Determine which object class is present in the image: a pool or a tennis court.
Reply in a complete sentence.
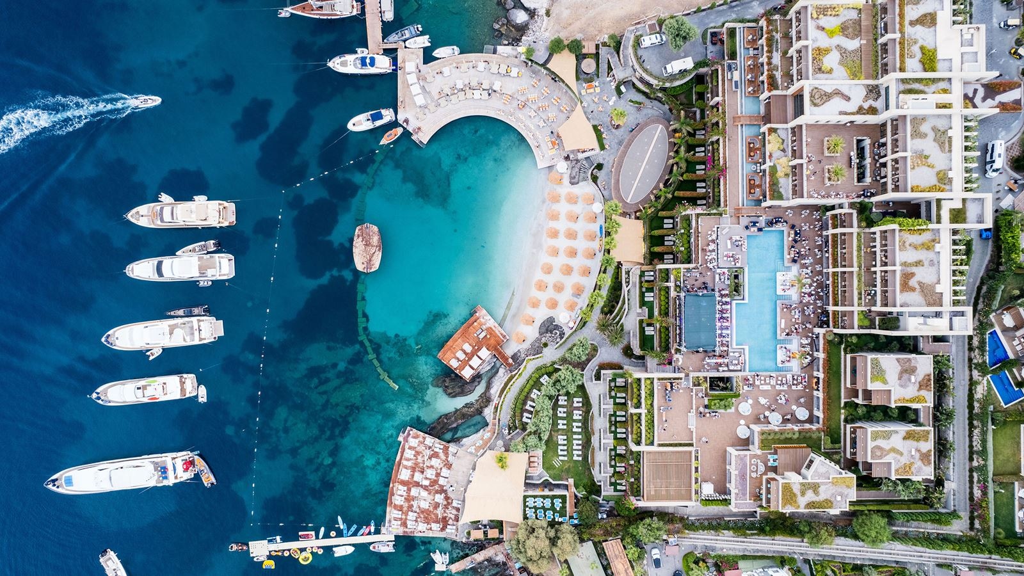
There is a pool in the scene.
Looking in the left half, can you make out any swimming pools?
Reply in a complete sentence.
No, I can find no swimming pool in the left half.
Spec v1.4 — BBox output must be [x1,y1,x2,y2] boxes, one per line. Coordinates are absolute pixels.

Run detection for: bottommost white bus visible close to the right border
[987,138,1011,178]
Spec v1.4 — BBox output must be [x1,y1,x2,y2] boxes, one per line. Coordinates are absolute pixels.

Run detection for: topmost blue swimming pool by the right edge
[984,327,1007,370]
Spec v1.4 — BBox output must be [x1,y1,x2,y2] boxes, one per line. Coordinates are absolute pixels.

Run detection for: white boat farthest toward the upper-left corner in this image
[126,96,162,108]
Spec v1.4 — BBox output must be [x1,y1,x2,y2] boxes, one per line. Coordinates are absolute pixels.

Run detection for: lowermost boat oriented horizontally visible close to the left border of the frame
[45,447,203,493]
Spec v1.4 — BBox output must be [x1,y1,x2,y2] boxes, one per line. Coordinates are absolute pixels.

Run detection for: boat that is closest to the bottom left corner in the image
[97,546,125,576]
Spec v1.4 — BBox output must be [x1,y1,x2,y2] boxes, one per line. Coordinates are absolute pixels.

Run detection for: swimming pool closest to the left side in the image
[714,220,800,375]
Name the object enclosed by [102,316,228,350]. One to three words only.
boat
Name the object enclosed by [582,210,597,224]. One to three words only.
umbrella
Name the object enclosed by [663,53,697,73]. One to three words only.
vehicle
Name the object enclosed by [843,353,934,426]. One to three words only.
house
